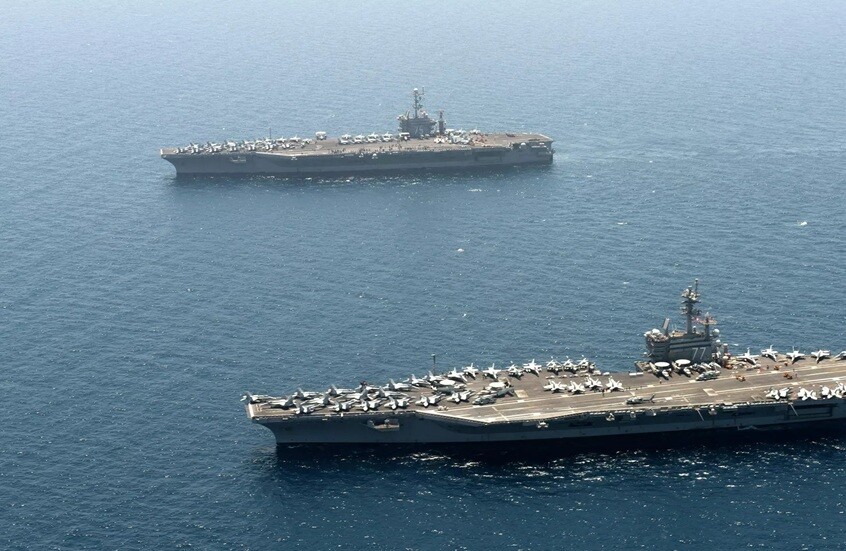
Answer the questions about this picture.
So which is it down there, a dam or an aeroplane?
aeroplane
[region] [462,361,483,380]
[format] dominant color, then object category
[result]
white airplane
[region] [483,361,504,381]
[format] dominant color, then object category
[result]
white airplane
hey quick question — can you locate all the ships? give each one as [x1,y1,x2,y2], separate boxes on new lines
[240,280,846,449]
[157,86,552,175]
